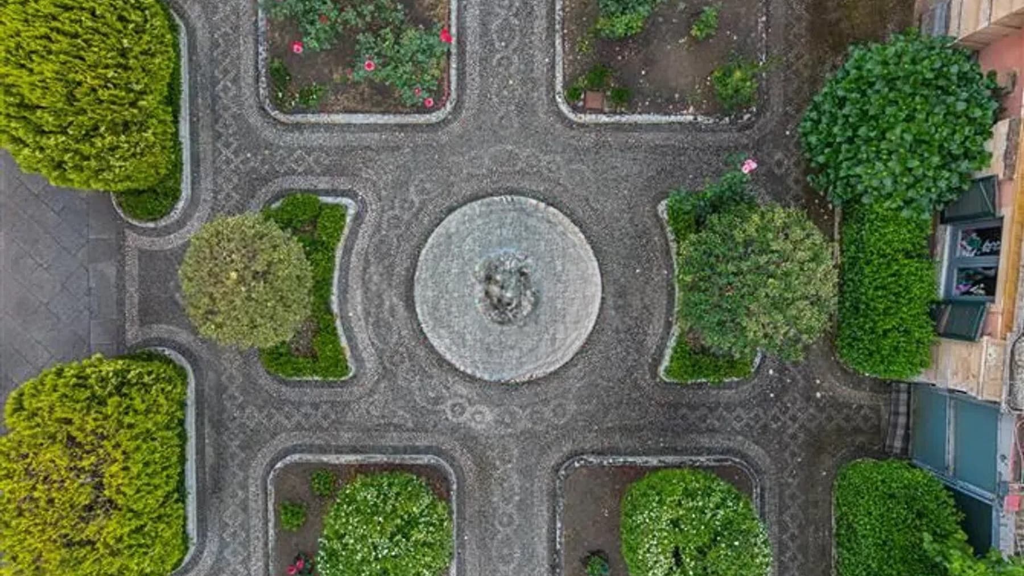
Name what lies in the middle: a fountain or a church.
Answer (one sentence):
The feature located in the middle is a fountain.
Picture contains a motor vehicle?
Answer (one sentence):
No, there is no motor vehicle in the image.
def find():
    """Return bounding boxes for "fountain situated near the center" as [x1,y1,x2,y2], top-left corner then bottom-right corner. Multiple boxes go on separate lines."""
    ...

[414,195,602,383]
